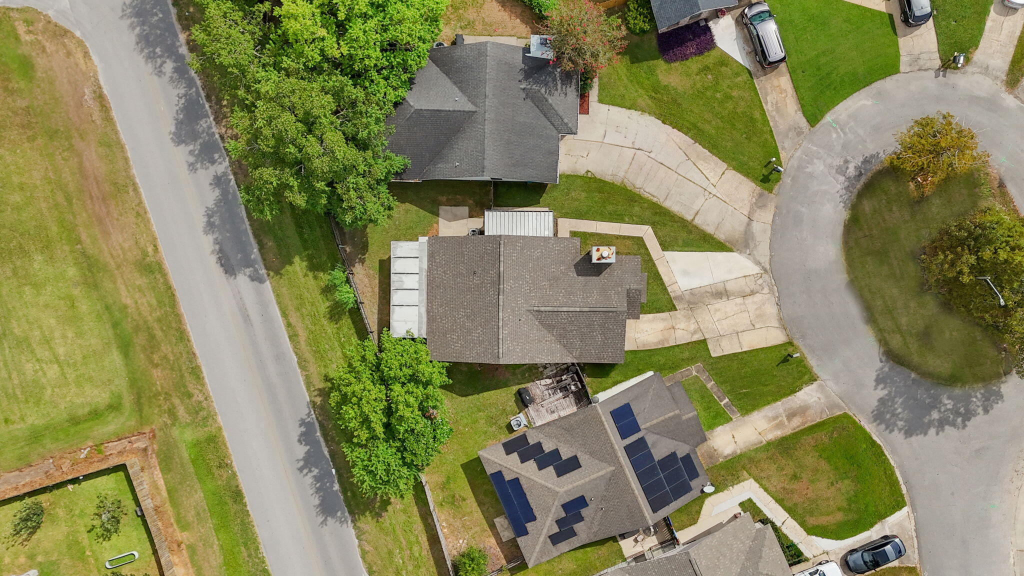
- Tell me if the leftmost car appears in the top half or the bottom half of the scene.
top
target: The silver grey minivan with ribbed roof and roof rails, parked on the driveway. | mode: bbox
[746,2,787,73]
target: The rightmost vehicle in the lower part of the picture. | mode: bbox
[844,538,911,576]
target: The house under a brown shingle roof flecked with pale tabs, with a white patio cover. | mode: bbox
[427,235,647,364]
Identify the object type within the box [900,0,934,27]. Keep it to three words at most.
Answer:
car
